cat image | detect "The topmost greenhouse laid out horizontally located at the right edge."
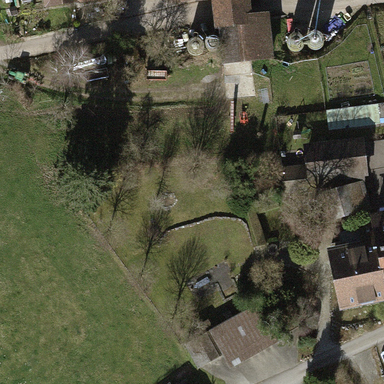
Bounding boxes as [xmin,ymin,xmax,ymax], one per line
[326,104,380,129]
